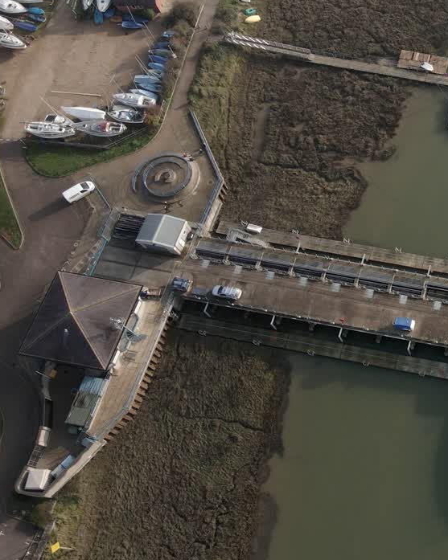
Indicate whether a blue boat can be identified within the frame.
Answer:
Yes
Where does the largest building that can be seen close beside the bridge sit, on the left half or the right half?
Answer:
left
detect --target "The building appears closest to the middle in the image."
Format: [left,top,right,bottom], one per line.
[136,213,192,253]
